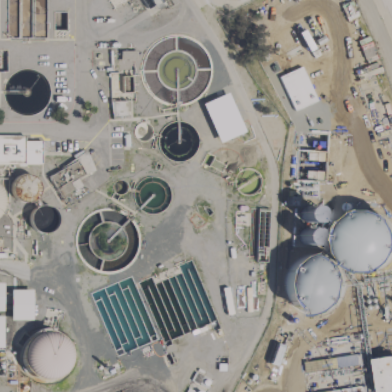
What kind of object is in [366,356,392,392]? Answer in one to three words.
building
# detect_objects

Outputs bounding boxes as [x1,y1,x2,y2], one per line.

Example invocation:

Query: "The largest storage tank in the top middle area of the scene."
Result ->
[142,36,212,142]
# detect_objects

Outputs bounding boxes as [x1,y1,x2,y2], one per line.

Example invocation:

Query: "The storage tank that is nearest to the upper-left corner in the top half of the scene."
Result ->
[0,70,52,116]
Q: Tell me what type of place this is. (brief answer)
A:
industrial area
